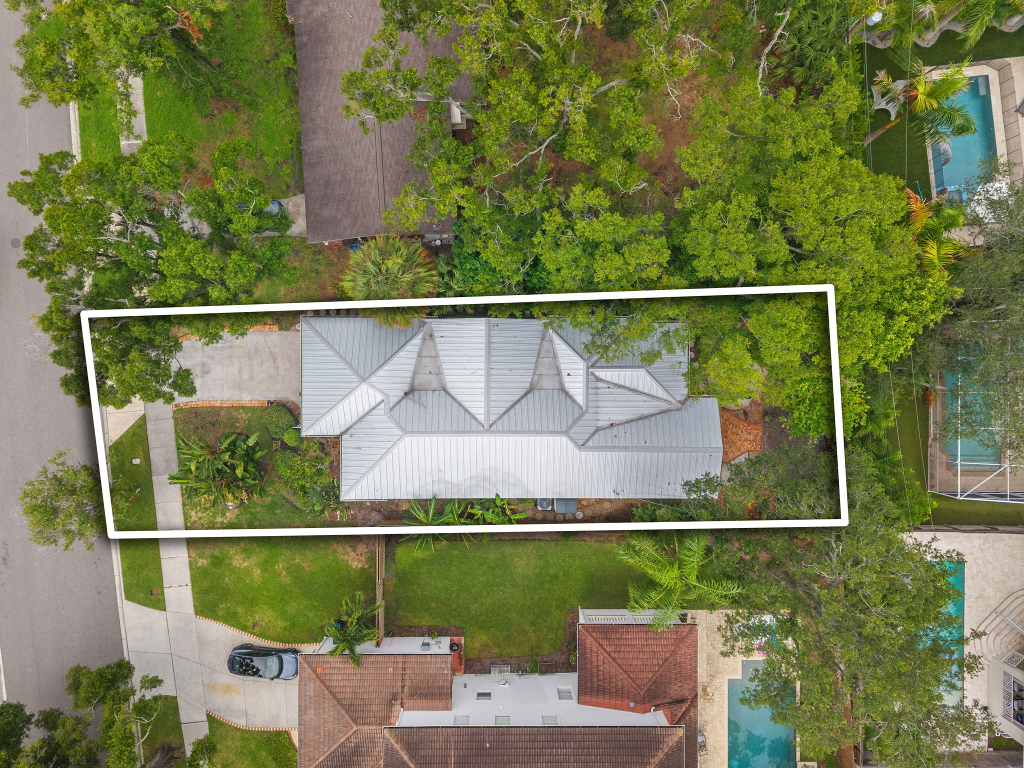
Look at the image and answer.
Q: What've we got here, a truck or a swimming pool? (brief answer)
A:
swimming pool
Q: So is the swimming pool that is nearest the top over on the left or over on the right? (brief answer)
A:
right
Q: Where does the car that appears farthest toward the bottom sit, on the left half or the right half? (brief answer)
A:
left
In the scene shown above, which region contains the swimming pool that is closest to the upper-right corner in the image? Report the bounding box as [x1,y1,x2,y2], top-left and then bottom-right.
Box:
[924,66,1013,217]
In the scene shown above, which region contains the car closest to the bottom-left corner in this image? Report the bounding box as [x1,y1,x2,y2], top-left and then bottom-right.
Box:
[222,645,295,689]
